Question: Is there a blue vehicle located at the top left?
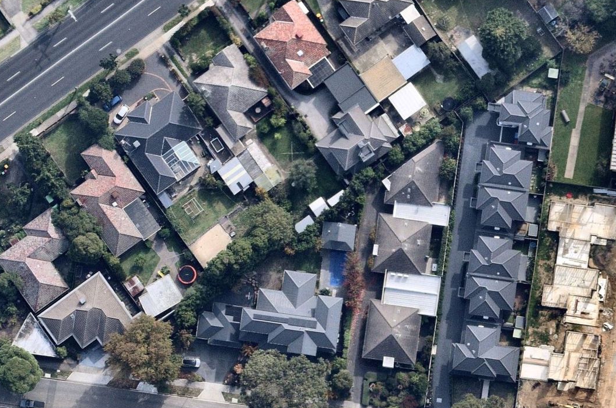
Yes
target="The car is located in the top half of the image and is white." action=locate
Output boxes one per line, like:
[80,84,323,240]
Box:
[113,103,130,126]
